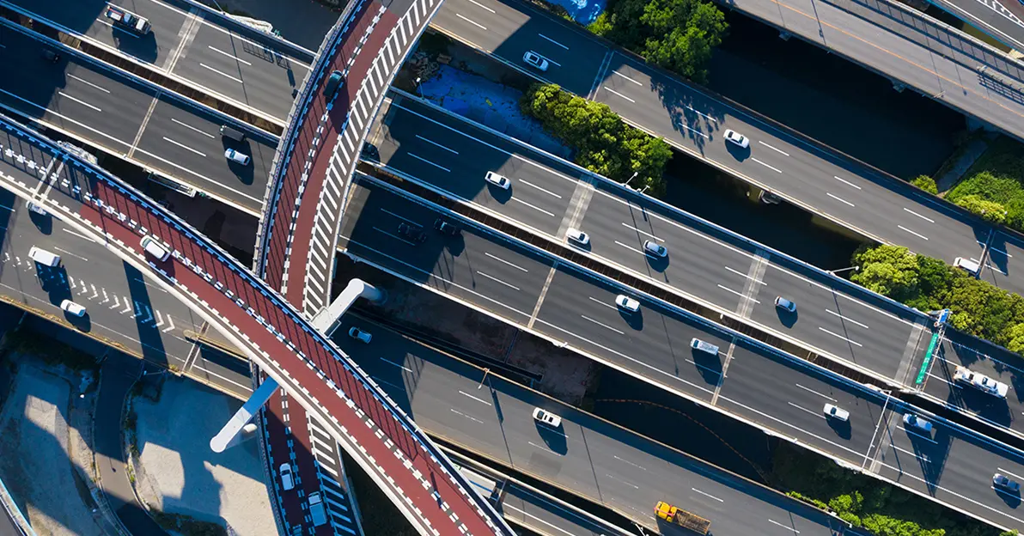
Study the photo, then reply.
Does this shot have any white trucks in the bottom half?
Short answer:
Yes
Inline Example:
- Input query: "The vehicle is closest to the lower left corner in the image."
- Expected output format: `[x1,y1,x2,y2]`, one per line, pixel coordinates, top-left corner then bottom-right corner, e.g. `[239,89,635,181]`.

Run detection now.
[60,299,87,317]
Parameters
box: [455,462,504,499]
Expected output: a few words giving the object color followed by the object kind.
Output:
white truck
